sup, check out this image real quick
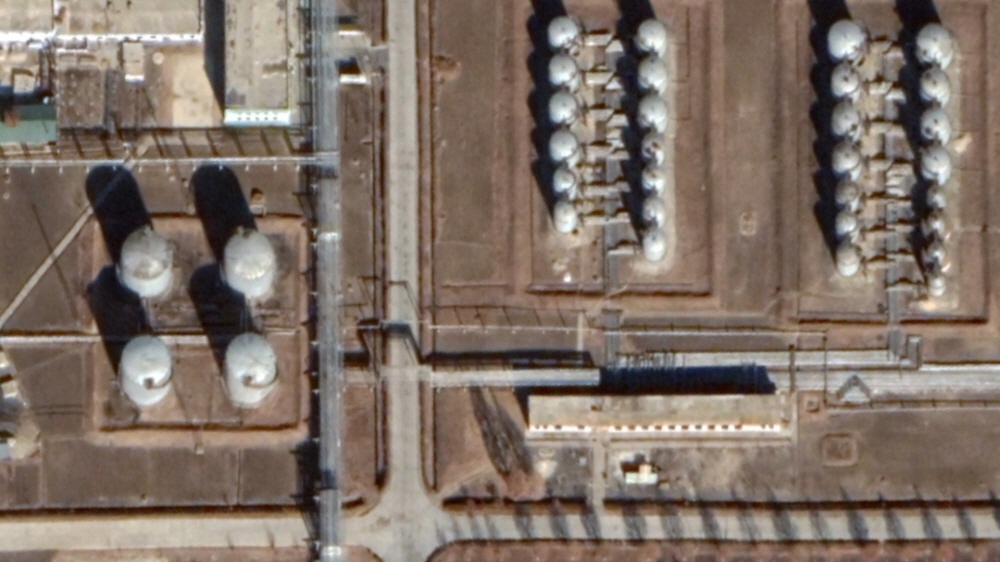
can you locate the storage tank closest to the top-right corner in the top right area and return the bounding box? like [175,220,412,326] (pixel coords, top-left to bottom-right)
[914,22,955,67]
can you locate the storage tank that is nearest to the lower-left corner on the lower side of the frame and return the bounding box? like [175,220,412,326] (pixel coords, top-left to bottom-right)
[119,337,176,406]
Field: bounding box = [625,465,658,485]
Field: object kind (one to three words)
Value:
shed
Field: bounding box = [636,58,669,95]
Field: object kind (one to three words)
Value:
storage tank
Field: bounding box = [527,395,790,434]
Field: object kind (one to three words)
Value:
building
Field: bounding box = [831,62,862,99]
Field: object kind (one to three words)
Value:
storage tank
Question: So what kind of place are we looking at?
industrial area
